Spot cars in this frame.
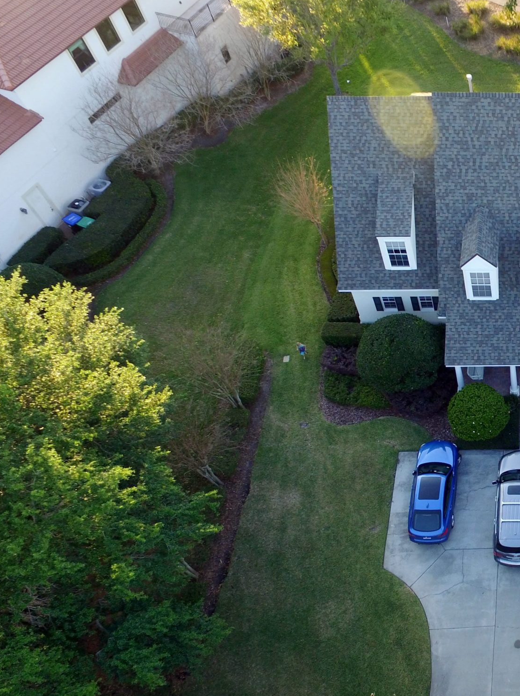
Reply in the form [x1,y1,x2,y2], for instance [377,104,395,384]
[404,440,462,549]
[488,451,520,566]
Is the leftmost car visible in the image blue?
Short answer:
Yes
